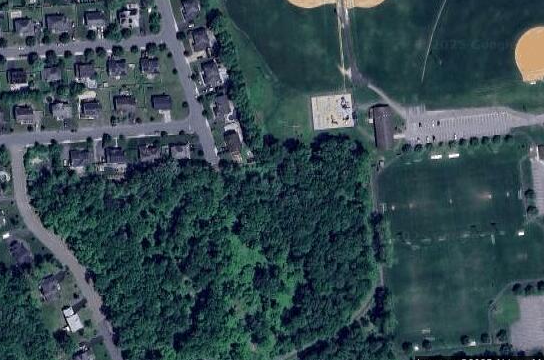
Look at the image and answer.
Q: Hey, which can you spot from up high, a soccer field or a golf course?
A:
soccer field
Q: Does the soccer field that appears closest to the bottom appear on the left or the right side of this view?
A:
right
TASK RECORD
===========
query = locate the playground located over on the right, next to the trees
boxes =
[311,93,355,130]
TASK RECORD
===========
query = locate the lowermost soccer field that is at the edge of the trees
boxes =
[390,221,544,342]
